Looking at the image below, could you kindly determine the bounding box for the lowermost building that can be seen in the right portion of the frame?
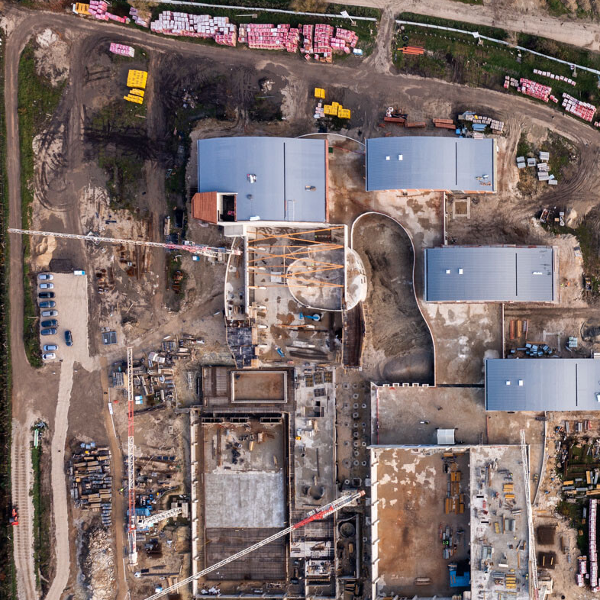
[366,444,532,600]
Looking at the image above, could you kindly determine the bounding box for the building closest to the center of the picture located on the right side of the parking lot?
[218,223,352,317]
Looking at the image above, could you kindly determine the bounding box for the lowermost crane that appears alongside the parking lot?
[143,488,369,600]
